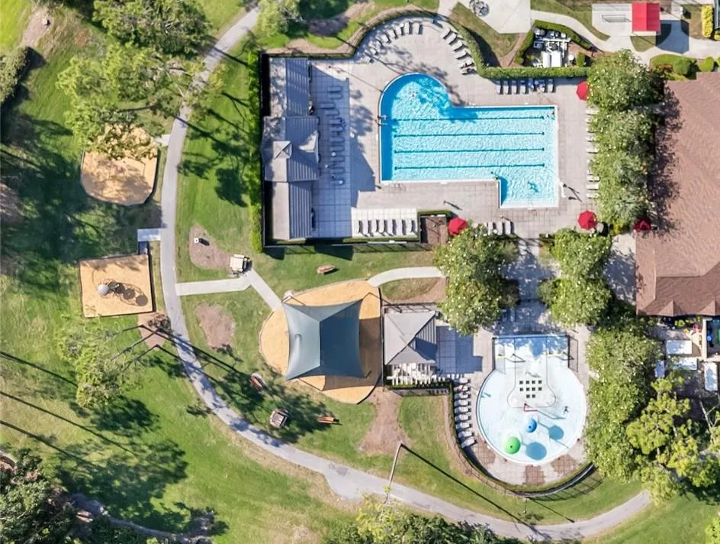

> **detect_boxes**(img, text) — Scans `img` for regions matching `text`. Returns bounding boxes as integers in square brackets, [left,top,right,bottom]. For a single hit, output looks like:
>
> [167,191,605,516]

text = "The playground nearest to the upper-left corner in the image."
[81,125,159,205]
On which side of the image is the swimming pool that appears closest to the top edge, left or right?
right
